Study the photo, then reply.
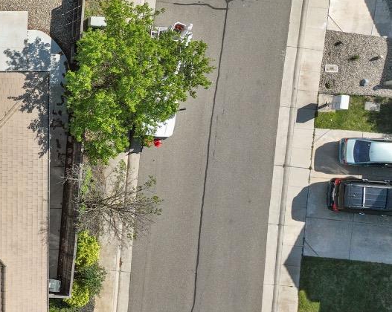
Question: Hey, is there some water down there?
No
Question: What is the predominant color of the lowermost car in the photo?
black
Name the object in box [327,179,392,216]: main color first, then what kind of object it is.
black car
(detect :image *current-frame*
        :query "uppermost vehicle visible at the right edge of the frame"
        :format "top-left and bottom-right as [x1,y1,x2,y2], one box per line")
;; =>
[339,136,392,166]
